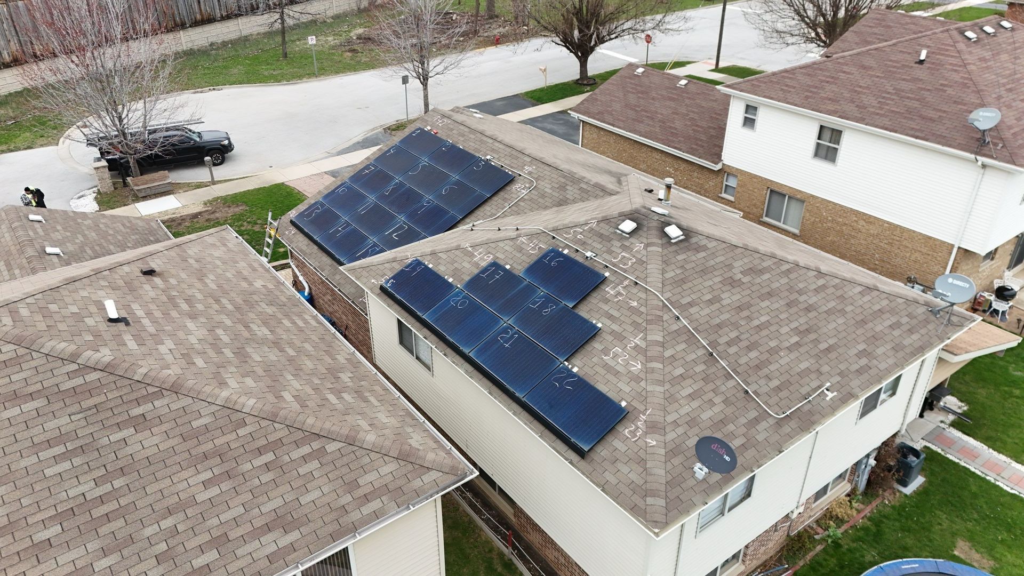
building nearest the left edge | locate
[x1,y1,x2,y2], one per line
[0,206,476,576]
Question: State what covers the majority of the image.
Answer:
buildings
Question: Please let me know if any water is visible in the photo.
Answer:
No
